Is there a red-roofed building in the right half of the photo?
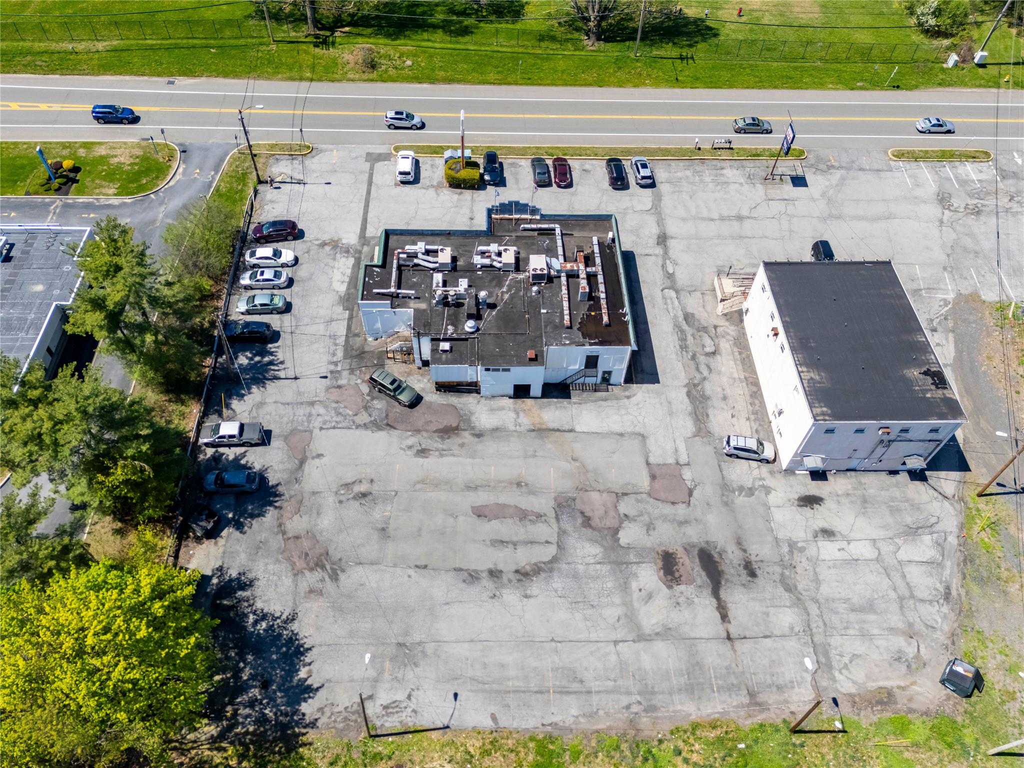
No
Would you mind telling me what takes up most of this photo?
paved ground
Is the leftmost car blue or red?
blue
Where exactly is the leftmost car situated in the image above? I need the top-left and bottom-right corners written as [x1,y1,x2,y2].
[90,104,133,124]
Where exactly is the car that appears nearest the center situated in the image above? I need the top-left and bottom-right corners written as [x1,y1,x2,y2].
[367,366,420,408]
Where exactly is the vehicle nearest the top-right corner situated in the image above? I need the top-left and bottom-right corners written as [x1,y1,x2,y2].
[916,117,958,134]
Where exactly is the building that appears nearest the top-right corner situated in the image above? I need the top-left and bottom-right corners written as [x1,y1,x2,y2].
[745,255,967,474]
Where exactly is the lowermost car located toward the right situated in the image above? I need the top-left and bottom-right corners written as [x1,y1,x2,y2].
[724,435,779,464]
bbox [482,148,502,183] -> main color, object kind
black car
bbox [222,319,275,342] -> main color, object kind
black car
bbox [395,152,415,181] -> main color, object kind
white car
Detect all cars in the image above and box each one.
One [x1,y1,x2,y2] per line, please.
[367,366,420,408]
[250,219,297,241]
[916,117,958,134]
[234,292,285,314]
[531,158,550,186]
[90,104,133,124]
[482,148,502,183]
[806,234,837,257]
[222,319,275,342]
[238,267,287,288]
[607,158,628,187]
[632,157,656,185]
[553,156,572,186]
[395,152,415,181]
[724,435,779,464]
[734,116,774,133]
[385,109,422,128]
[244,247,293,267]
